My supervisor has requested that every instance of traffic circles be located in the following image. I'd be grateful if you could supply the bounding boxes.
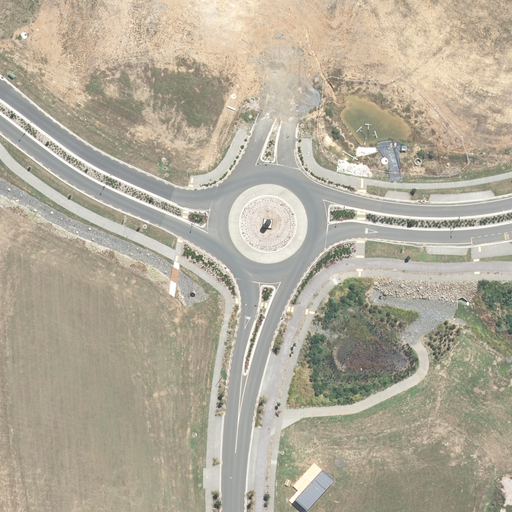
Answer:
[194,150,340,302]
